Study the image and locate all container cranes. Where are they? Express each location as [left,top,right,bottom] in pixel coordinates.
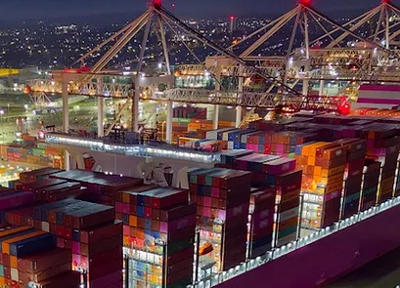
[268,1,400,106]
[175,1,400,127]
[341,27,400,83]
[22,3,344,141]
